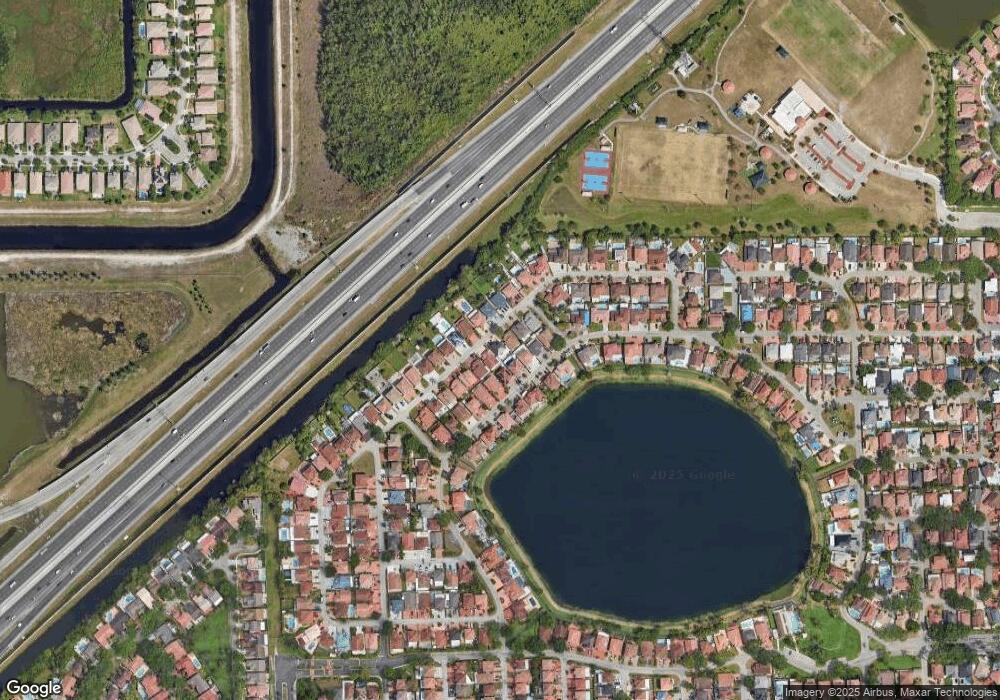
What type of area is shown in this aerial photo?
residential area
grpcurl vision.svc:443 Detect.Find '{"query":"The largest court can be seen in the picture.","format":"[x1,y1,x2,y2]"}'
[580,150,611,198]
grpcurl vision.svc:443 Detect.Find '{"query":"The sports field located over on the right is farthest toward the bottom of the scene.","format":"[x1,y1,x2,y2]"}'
[612,124,728,204]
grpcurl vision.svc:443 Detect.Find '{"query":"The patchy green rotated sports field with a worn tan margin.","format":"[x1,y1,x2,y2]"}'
[761,0,898,101]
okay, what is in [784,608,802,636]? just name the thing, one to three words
swimming pool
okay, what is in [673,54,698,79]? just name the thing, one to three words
building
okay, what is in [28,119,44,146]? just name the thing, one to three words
house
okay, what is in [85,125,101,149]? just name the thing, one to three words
house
